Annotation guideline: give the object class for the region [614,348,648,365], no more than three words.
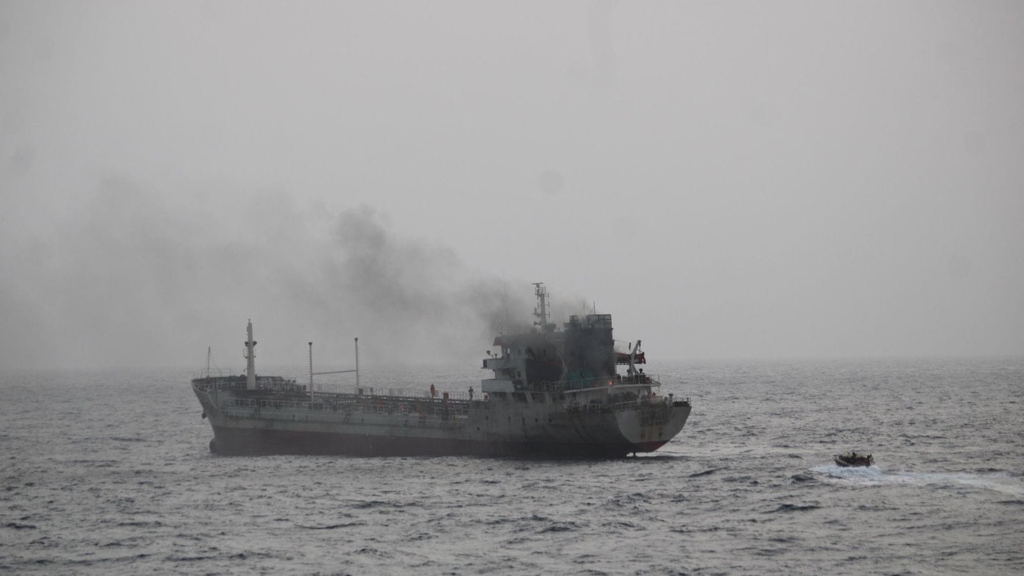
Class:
boat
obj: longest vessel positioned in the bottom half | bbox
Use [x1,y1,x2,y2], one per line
[190,279,692,458]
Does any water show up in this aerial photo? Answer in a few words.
Yes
